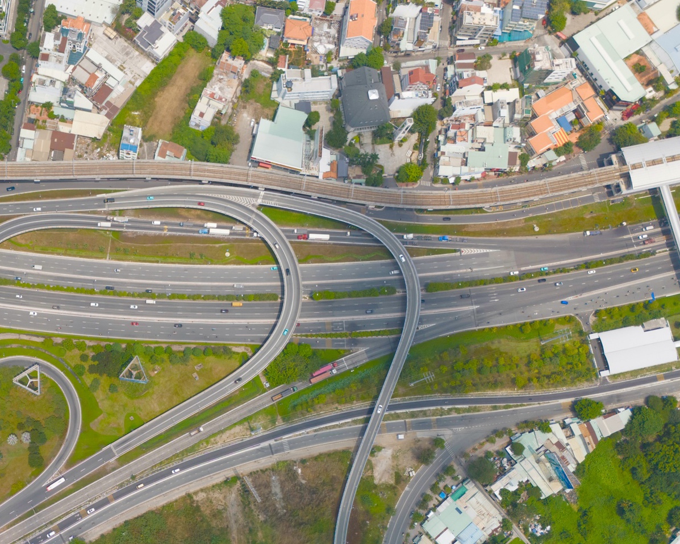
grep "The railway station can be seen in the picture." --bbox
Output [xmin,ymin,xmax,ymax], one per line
[607,137,680,198]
